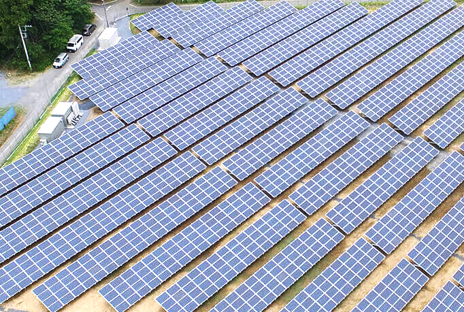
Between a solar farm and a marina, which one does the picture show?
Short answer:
solar farm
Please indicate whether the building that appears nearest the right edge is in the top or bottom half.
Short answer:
top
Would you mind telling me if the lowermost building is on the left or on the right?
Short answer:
left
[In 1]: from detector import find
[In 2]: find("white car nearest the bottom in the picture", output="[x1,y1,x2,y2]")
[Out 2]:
[51,50,71,66]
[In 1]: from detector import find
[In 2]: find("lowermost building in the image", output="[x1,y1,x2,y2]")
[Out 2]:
[38,116,65,147]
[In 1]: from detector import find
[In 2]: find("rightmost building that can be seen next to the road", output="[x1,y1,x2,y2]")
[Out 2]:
[96,27,126,53]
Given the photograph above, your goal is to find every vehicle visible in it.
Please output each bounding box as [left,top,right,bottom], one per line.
[51,50,71,66]
[66,32,86,51]
[83,23,99,37]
